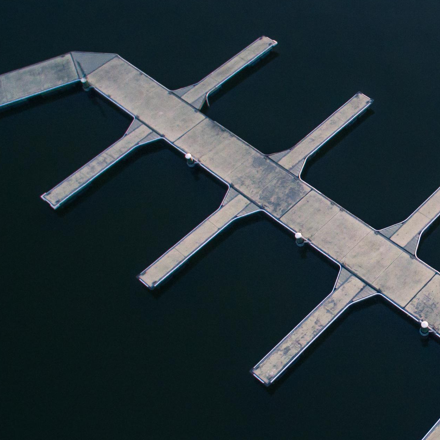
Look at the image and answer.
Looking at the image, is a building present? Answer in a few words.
No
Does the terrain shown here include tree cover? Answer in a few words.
No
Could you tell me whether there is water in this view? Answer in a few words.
Yes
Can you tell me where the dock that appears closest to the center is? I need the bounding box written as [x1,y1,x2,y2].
[138,184,265,292]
